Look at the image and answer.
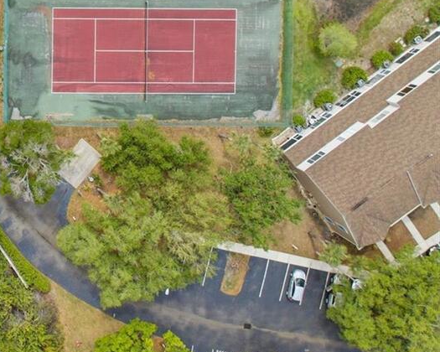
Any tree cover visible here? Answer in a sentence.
Yes, tree cover shows up in the scene.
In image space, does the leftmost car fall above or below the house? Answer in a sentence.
From this view, the leftmost car can be seen below the house.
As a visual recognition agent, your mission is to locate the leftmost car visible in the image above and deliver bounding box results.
[284,266,307,303]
